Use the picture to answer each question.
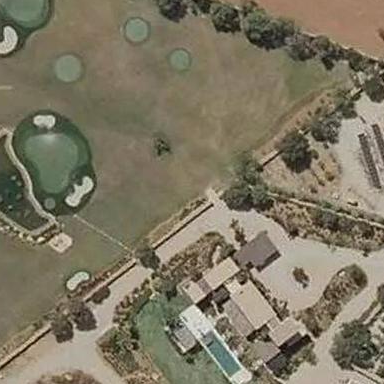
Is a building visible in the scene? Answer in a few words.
Yes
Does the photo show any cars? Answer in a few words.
No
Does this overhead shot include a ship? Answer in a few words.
No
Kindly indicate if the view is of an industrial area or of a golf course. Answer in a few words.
golf course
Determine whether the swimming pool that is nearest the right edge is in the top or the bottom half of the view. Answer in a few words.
bottom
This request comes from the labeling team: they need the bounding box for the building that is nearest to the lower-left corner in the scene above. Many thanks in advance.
[167,326,198,353]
